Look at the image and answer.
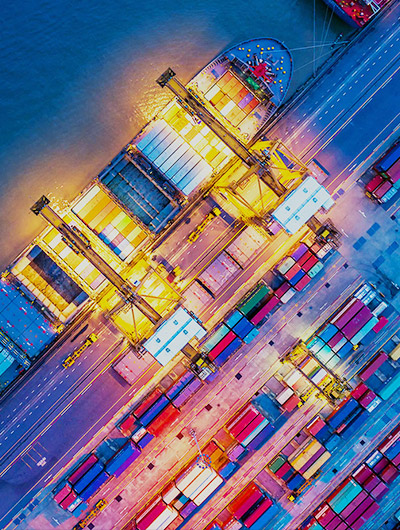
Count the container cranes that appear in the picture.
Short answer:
2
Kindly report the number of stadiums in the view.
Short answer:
none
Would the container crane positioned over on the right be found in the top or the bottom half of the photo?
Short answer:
top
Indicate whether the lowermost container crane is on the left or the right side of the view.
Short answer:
left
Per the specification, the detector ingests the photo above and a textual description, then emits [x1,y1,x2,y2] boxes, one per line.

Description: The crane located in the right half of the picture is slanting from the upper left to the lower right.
[156,67,347,243]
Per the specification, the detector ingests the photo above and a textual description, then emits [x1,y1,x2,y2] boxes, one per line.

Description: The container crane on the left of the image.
[29,195,220,372]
